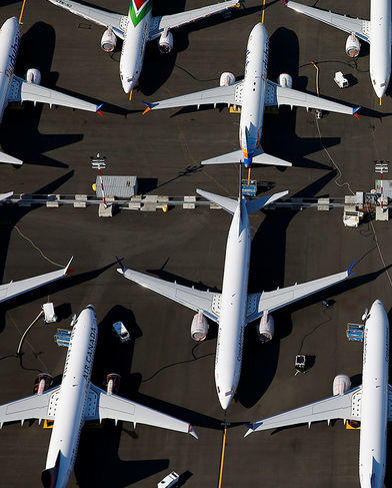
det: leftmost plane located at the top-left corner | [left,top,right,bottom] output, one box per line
[0,22,101,130]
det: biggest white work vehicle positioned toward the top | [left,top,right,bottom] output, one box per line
[332,73,350,91]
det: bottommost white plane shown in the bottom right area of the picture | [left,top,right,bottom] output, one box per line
[243,300,392,488]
